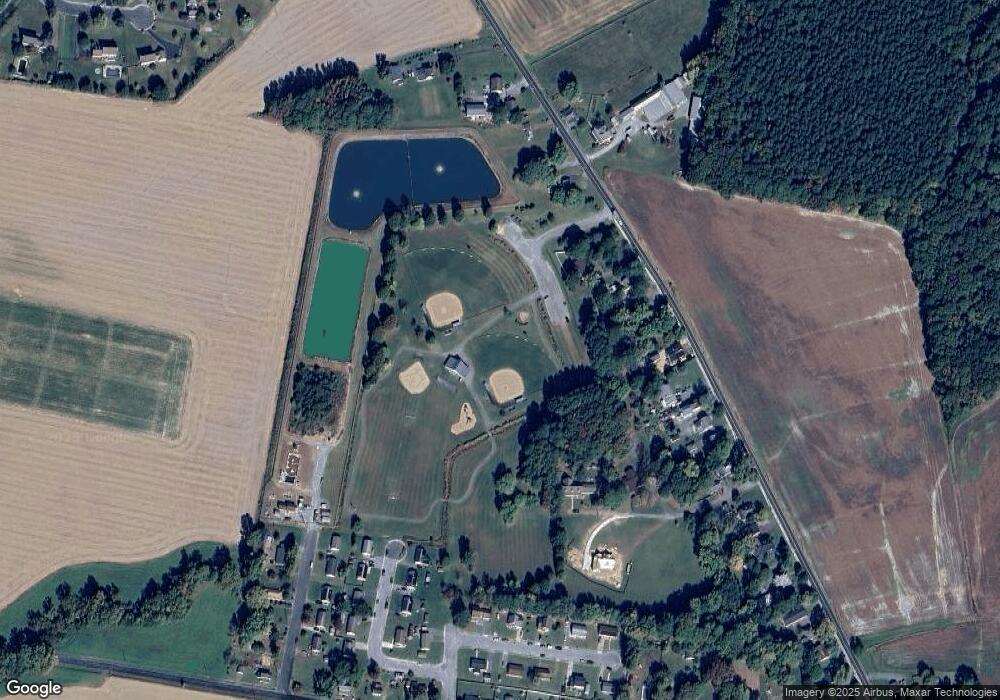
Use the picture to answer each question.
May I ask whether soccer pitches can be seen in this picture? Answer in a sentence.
Yes, I can see a soccer pitch in this picture.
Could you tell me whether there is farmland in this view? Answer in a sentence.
Yes, farmland can be seen from above here.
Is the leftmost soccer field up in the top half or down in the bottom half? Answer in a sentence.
Seen from above, the leftmost soccer field lies in the bottom half of the view.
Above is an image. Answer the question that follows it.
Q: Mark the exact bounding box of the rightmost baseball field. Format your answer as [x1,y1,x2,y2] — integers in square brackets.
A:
[472,333,555,405]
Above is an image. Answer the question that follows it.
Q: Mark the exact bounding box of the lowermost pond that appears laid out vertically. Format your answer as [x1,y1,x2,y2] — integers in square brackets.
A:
[304,239,367,361]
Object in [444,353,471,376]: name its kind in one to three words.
building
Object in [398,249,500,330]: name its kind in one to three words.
baseball field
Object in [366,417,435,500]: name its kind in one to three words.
soccer field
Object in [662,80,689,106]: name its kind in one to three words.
barn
